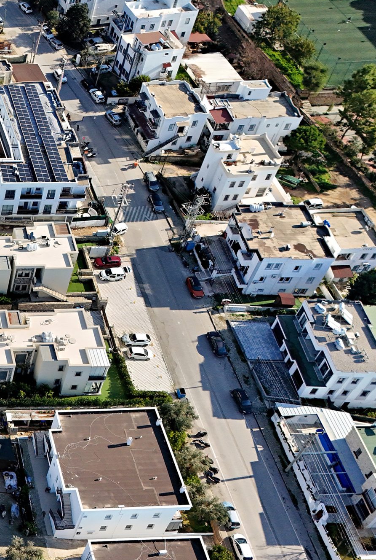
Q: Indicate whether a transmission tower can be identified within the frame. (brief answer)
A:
Yes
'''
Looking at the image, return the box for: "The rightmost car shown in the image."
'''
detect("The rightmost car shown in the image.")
[297,195,329,210]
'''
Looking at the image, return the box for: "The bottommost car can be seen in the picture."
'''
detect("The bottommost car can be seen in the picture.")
[226,532,255,560]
